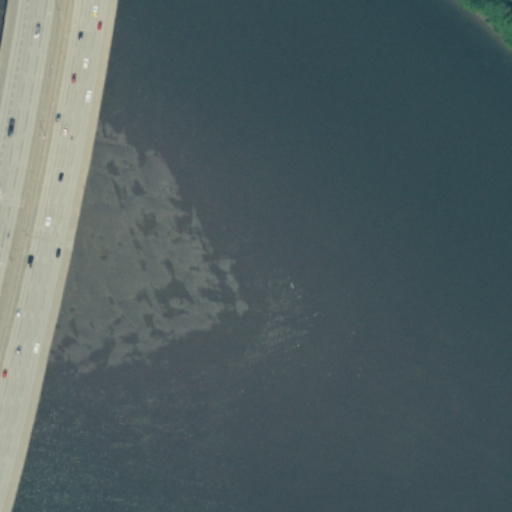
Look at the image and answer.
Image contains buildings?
No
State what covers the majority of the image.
water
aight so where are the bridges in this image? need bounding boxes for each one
[0,0,118,512]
